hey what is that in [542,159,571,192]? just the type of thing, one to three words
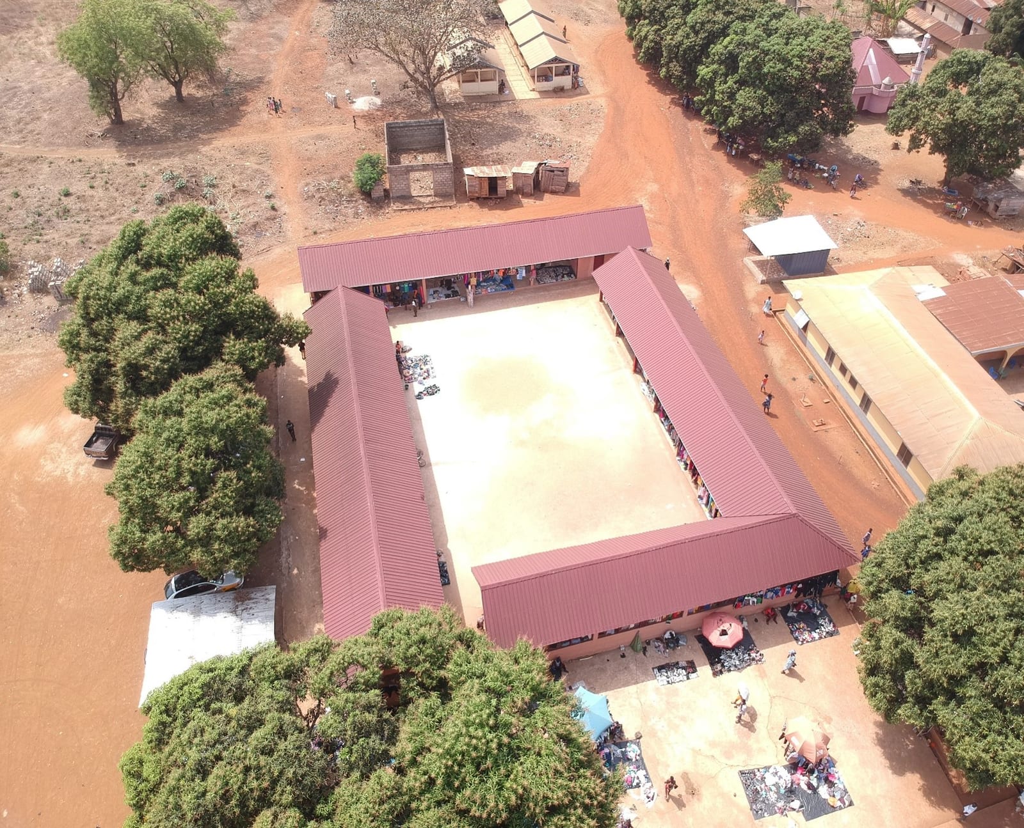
shed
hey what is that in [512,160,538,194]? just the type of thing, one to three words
shed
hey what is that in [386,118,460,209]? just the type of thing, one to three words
building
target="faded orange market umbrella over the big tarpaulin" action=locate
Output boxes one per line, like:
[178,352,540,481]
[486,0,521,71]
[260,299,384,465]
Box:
[776,716,830,766]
